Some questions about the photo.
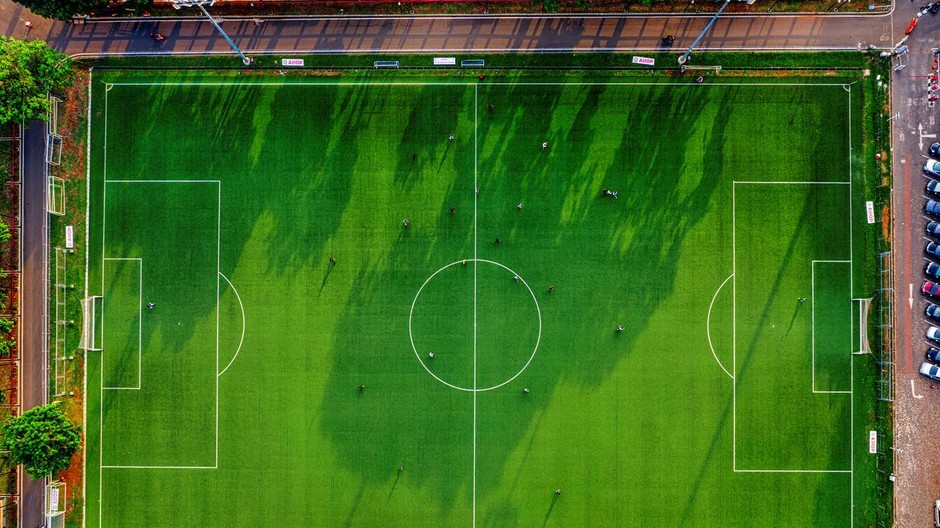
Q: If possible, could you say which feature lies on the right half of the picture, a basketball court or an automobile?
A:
automobile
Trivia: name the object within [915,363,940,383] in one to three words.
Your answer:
car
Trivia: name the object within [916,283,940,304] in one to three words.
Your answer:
car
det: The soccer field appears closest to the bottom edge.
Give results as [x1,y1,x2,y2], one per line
[84,76,865,528]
